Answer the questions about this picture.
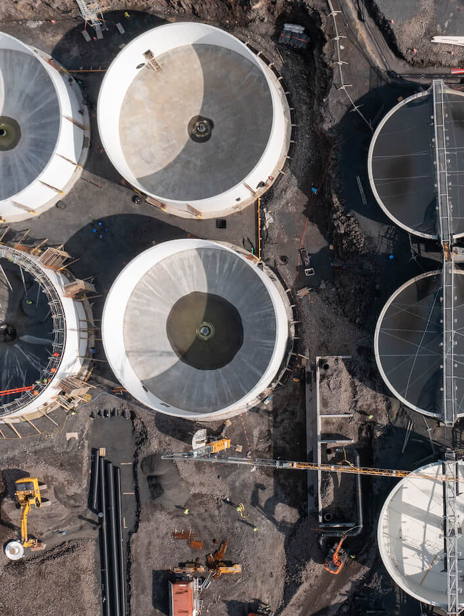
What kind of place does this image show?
industrial area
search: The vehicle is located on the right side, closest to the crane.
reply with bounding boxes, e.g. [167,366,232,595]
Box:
[323,533,349,575]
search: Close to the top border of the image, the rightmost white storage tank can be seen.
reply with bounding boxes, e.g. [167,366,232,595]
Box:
[97,22,296,221]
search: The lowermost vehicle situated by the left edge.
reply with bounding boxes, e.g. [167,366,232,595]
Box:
[12,471,53,545]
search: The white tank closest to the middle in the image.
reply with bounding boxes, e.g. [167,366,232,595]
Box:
[101,237,299,420]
